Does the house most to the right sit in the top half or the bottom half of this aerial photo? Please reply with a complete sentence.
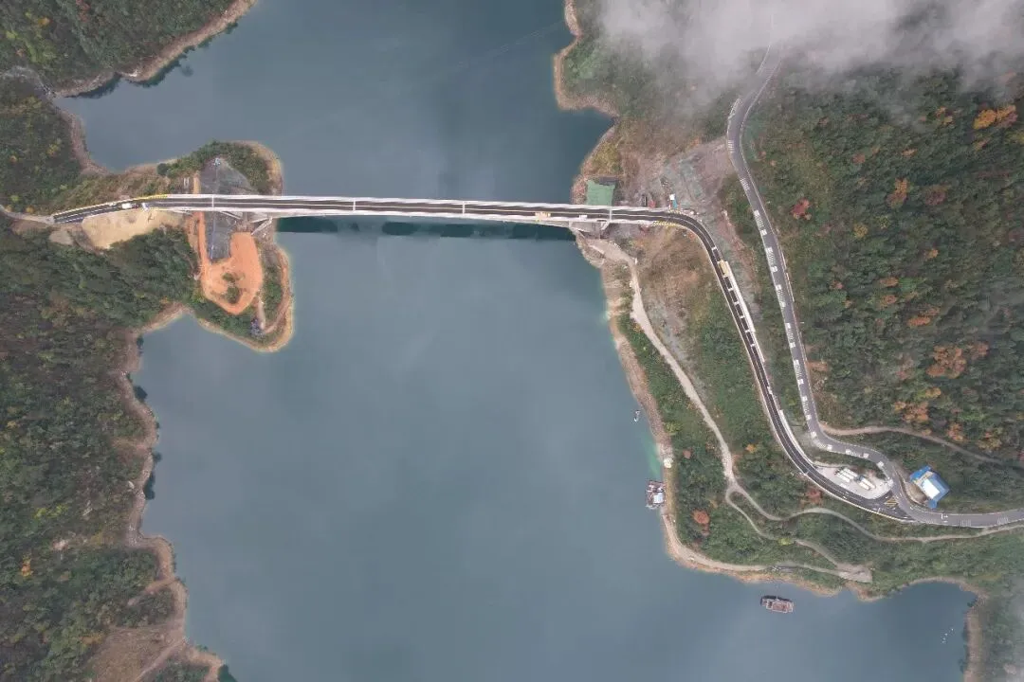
It is in the bottom half that the house most to the right appears.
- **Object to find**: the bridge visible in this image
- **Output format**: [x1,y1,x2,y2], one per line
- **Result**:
[141,193,657,233]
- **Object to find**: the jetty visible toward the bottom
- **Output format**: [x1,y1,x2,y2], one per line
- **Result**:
[646,483,665,508]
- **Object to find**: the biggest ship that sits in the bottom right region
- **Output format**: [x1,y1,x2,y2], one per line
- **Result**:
[762,596,795,613]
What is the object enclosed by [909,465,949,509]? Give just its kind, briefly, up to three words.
house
